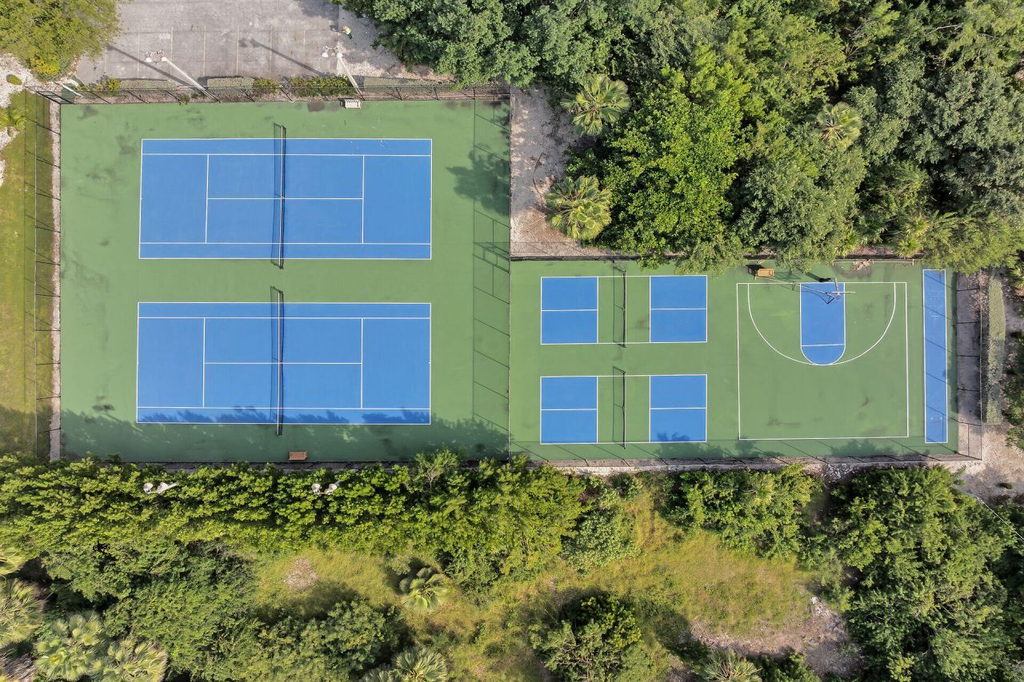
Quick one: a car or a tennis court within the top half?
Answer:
tennis court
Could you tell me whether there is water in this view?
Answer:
No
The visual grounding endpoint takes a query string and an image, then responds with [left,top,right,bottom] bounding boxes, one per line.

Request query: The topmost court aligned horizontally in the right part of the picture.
[541,275,708,345]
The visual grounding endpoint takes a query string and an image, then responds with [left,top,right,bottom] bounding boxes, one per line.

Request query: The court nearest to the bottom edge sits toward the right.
[540,374,707,445]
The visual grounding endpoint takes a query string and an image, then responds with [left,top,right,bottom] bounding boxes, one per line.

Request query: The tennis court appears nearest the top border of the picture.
[138,138,432,259]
